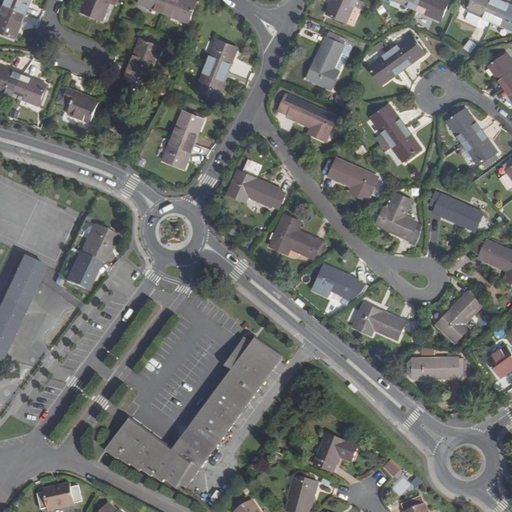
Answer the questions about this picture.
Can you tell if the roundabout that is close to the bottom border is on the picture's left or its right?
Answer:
right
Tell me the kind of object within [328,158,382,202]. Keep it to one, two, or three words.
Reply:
house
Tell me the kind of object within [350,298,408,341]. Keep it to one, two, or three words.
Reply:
house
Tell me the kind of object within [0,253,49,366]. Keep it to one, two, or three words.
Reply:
building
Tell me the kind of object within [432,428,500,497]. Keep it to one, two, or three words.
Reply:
roundabout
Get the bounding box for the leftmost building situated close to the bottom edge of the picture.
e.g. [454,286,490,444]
[36,482,82,512]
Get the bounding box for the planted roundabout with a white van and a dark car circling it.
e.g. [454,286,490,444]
[140,198,207,265]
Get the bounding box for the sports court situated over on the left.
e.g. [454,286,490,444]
[0,179,76,262]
